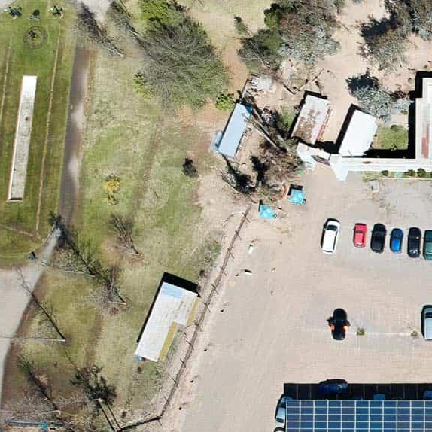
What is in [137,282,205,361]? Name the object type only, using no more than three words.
shed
